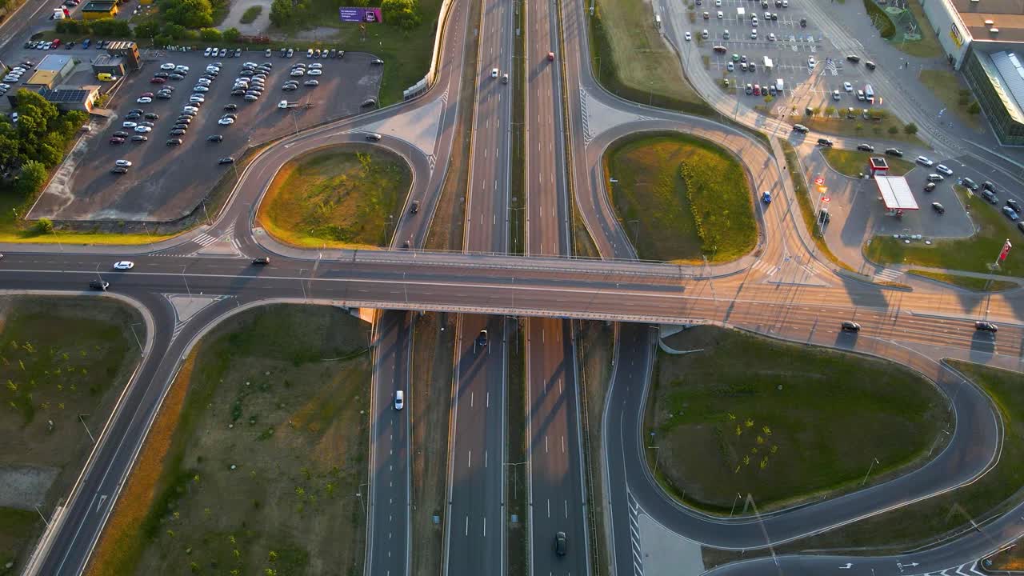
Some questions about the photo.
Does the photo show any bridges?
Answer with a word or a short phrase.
Yes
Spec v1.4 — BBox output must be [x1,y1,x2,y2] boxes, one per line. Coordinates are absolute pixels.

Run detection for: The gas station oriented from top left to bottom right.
[868,157,918,228]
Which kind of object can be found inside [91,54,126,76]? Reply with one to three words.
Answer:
building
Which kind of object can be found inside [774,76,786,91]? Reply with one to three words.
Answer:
vehicle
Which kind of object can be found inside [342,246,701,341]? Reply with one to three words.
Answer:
bridge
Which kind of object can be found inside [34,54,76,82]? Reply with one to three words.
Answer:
building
